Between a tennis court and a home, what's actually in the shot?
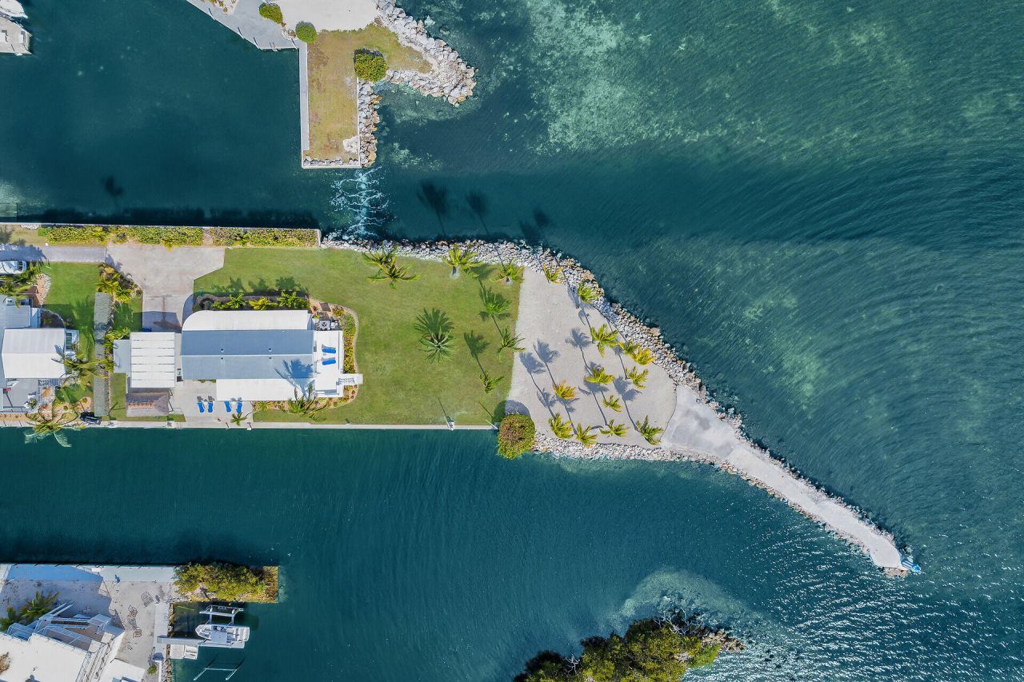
home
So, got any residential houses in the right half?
No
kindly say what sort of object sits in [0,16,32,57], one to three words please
boat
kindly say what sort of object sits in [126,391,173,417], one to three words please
building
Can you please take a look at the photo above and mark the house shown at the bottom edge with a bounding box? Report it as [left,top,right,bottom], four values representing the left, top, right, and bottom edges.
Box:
[0,603,154,682]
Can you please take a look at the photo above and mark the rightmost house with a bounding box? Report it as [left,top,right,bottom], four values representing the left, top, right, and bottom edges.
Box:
[180,310,363,401]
